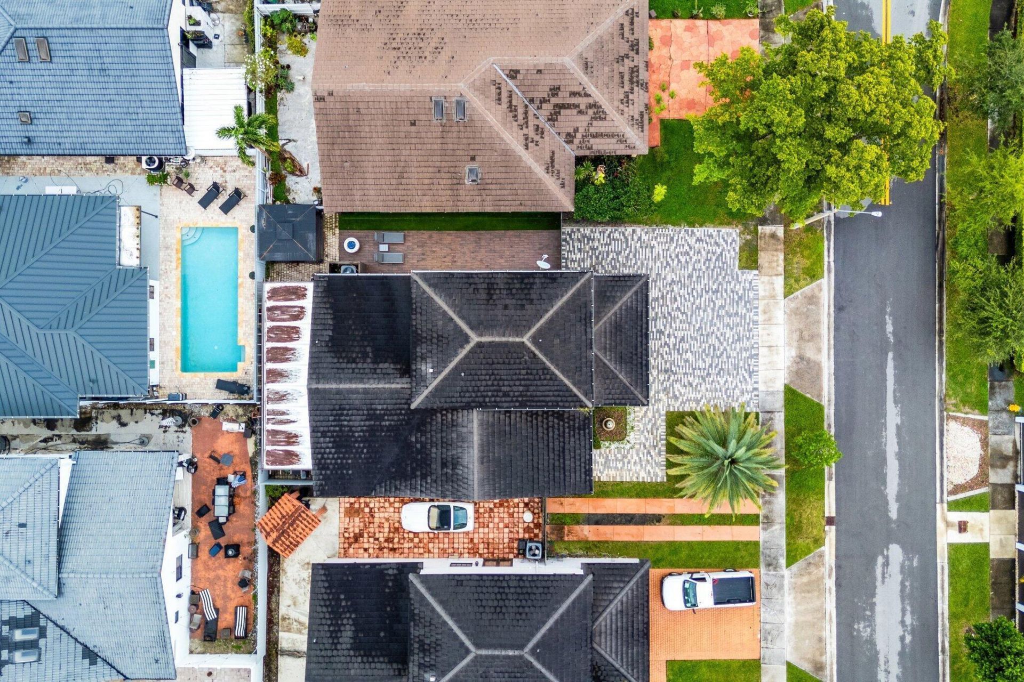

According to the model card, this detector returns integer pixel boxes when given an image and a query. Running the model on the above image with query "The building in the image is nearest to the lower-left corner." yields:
[0,449,191,682]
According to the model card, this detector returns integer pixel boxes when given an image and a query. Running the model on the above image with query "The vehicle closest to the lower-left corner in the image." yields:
[399,503,473,540]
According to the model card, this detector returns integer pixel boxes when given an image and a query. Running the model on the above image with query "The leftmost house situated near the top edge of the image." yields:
[0,0,188,156]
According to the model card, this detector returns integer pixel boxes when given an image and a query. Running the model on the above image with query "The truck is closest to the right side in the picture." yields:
[663,571,757,616]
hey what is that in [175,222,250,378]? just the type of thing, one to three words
swimming pool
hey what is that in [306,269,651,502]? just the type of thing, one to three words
house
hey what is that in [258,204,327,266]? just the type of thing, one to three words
gazebo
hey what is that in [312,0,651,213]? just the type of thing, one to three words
house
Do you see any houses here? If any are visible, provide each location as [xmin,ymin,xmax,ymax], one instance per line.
[306,269,651,502]
[0,449,191,682]
[0,193,159,419]
[306,554,651,682]
[0,0,188,156]
[312,0,651,213]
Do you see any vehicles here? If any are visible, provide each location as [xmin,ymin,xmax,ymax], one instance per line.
[663,571,757,616]
[399,503,473,540]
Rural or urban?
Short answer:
urban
